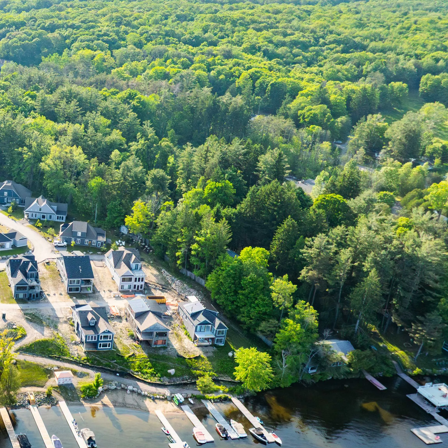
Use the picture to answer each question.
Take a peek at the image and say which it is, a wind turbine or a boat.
boat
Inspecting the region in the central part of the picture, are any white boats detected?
No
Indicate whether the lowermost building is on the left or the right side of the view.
right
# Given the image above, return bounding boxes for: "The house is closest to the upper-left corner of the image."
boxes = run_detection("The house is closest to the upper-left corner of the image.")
[0,183,31,206]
